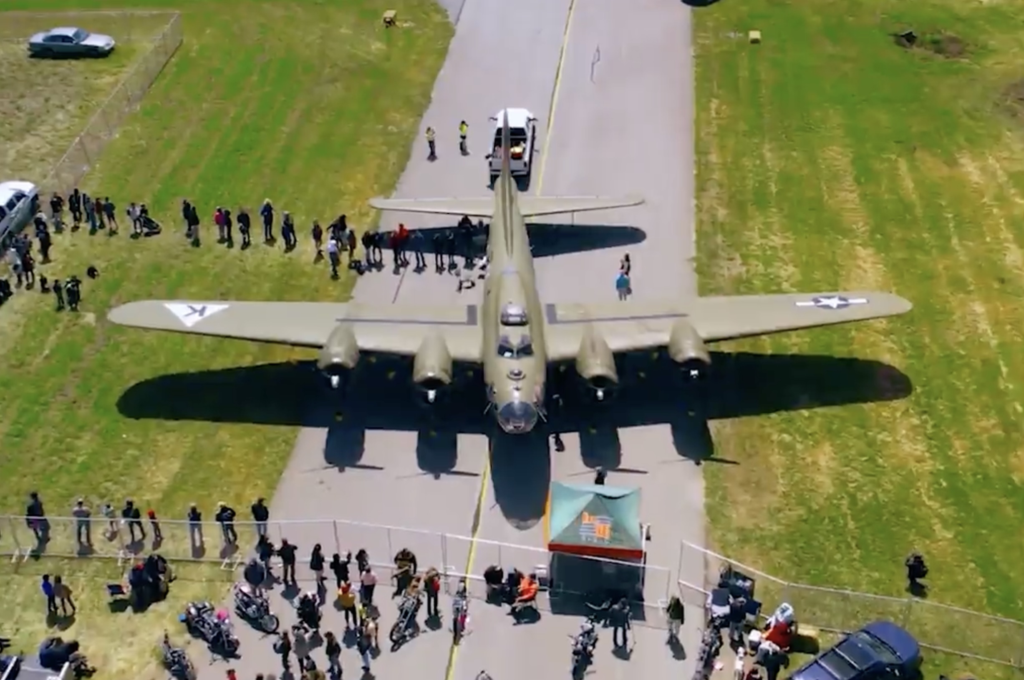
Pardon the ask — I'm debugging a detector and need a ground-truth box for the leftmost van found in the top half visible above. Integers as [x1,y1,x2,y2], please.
[0,184,42,246]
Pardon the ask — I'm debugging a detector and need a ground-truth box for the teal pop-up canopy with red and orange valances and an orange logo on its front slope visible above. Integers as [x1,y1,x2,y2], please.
[537,482,650,604]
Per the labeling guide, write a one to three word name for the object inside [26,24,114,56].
car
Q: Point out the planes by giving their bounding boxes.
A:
[110,109,910,443]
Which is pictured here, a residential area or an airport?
airport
